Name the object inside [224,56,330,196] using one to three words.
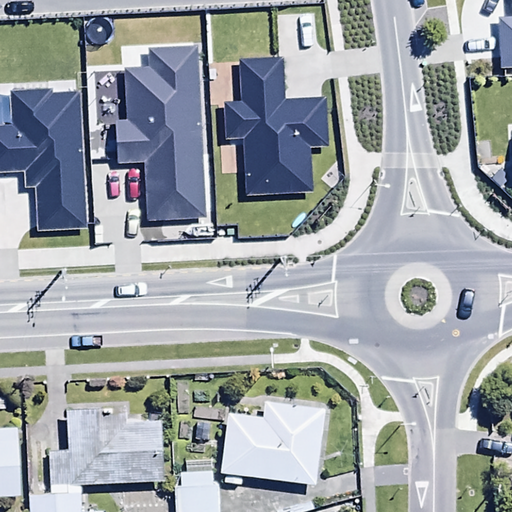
house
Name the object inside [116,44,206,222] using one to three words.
house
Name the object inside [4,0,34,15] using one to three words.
car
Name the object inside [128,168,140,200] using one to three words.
vehicle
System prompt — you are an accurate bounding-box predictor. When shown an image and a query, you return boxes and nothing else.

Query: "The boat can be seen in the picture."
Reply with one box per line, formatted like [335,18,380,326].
[179,224,218,236]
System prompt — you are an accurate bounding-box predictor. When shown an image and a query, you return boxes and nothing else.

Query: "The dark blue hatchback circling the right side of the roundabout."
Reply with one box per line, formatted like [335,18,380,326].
[458,287,476,320]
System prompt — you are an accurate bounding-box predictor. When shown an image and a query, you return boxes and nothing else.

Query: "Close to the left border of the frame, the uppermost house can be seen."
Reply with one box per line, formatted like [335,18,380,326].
[0,88,87,232]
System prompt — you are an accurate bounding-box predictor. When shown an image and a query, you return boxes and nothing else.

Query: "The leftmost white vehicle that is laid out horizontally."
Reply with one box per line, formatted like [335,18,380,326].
[114,282,148,296]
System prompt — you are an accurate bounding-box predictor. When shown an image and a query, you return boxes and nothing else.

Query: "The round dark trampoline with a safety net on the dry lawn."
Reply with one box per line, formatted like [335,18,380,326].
[86,17,113,44]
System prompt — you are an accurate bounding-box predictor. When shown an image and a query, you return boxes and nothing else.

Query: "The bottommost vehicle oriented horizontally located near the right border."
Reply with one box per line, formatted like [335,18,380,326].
[464,37,496,52]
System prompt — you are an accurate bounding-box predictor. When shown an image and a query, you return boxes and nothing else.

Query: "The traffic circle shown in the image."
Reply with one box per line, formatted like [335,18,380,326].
[385,262,452,329]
